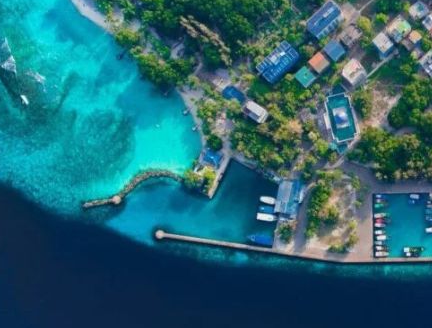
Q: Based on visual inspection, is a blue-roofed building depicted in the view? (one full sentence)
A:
Yes, a blue-roofed building appears in the view.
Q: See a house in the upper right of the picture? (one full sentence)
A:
Yes, a house shows up in the upper right of the picture.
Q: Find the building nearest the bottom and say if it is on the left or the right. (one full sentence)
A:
It is on the right.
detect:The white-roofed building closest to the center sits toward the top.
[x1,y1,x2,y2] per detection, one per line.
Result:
[242,99,270,123]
